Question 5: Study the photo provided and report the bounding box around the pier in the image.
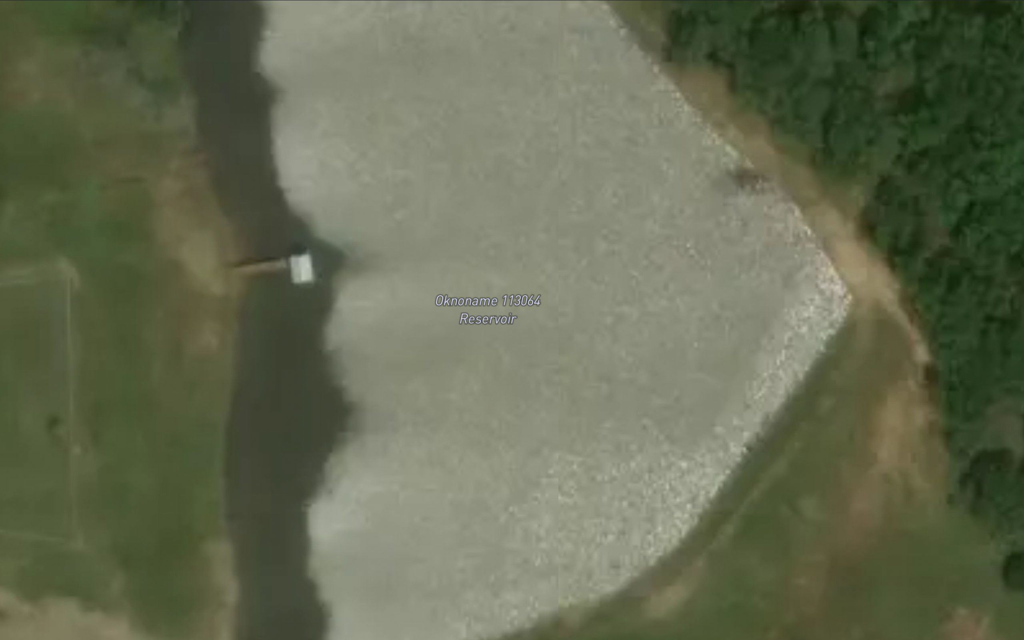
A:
[235,259,287,274]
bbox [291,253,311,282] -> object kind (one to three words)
shed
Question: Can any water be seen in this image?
Yes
